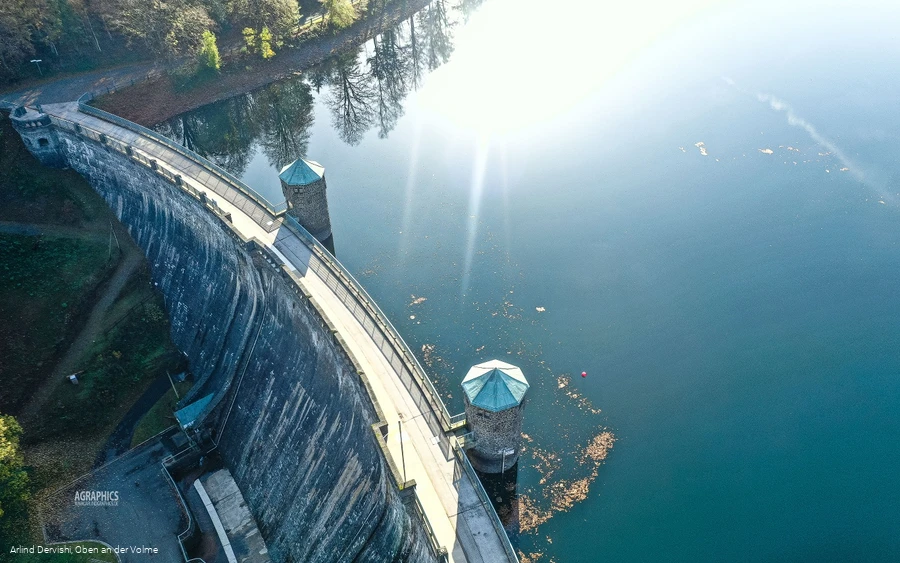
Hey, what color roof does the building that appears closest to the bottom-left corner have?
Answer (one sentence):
The color of the roof on the building that appears closest to the bottom-left corner is blue.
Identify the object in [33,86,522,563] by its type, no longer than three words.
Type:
dam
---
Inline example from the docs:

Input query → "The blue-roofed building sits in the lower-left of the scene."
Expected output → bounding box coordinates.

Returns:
[172,392,214,433]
